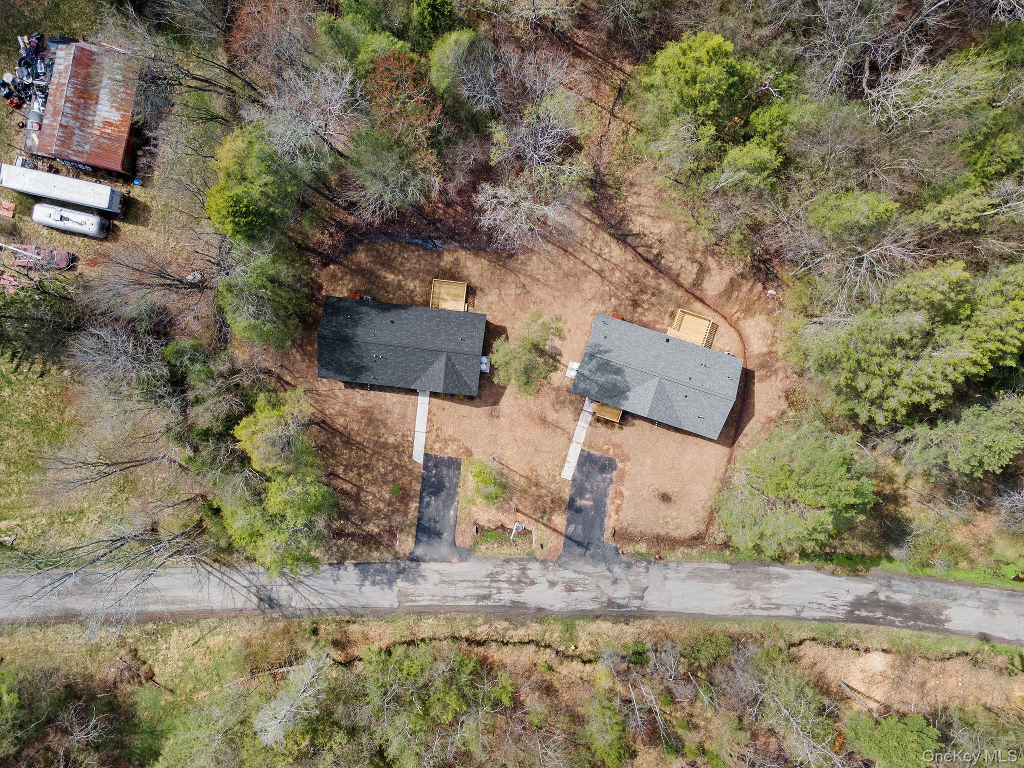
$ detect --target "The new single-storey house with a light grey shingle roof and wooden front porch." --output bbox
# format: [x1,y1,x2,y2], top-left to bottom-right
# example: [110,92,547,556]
[572,313,743,440]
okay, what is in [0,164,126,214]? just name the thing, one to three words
trailer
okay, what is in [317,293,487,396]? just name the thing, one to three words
house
